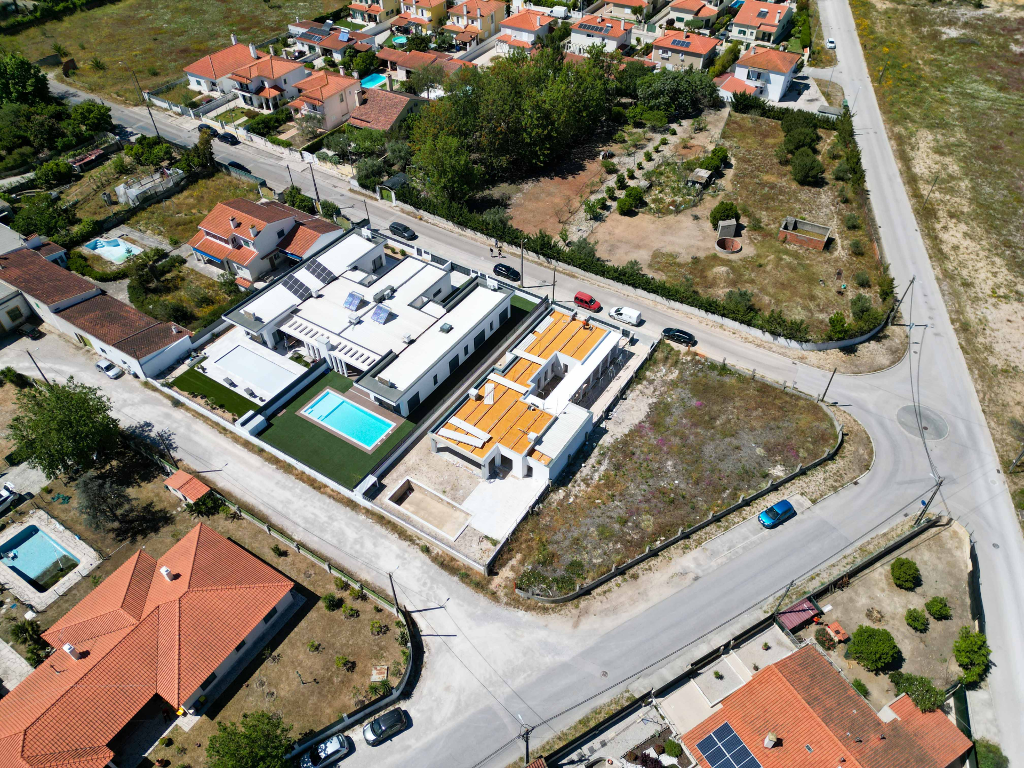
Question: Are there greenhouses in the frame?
Yes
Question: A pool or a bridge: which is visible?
pool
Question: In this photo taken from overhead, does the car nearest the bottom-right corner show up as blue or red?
blue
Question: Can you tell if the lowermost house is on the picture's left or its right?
right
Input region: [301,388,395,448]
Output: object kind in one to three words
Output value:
swimming pool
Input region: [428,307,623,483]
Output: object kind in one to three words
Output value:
house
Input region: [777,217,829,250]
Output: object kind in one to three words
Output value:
storage tank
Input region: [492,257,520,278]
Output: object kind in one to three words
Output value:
car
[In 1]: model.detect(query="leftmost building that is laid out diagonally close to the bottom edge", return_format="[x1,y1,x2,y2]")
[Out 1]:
[0,521,294,768]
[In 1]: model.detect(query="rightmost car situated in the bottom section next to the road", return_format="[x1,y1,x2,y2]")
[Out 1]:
[757,494,802,528]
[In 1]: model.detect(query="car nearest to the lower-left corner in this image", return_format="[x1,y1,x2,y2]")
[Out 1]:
[0,478,21,509]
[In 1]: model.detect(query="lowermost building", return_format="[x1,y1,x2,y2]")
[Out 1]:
[682,645,973,768]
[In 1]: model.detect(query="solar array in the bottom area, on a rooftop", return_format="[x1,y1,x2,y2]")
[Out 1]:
[696,722,763,768]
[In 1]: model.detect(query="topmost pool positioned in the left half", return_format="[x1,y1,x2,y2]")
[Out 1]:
[389,35,409,47]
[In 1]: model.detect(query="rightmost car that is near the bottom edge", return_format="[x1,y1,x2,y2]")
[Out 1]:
[360,703,410,747]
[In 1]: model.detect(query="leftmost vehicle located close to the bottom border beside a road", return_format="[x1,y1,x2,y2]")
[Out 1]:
[298,728,349,768]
